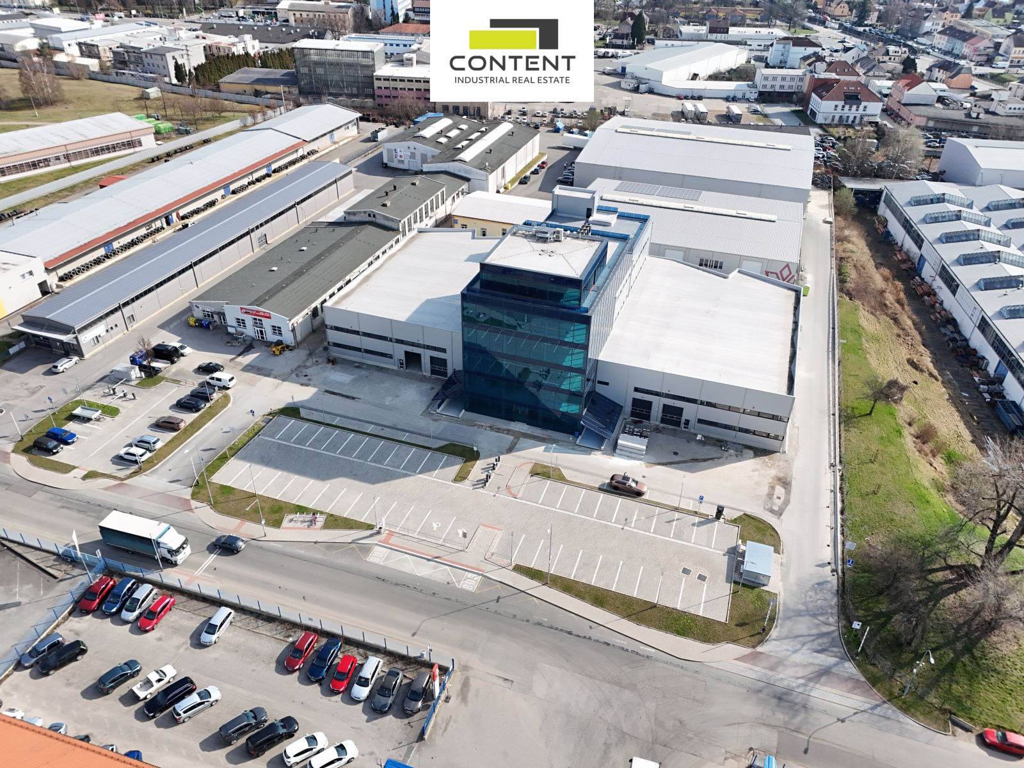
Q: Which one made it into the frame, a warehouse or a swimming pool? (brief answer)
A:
warehouse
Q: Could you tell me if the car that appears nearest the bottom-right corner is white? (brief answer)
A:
No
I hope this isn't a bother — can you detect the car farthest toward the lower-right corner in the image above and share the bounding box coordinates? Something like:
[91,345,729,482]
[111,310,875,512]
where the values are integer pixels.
[978,724,1024,766]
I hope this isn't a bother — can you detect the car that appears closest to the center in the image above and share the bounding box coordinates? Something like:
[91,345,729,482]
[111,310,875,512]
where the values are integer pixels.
[609,473,646,498]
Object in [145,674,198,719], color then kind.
black car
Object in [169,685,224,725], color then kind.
white car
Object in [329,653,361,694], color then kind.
red car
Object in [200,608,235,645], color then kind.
white car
